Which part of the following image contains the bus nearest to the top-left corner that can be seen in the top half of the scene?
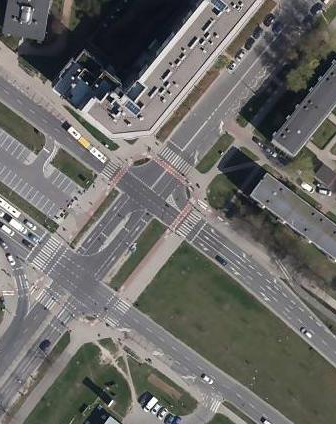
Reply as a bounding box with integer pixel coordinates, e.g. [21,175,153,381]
[67,125,108,164]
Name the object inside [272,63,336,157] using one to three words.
building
